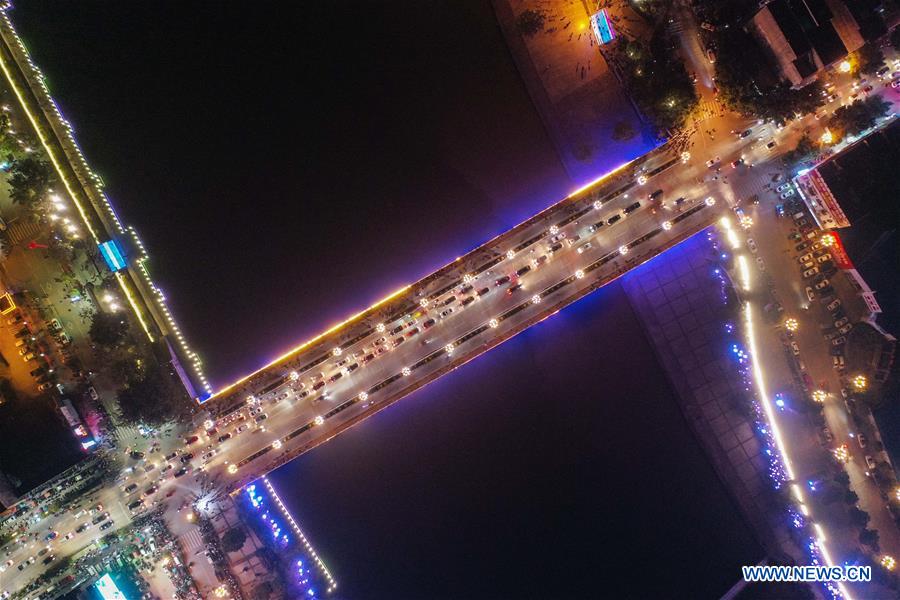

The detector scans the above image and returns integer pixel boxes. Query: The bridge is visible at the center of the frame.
[201,141,729,486]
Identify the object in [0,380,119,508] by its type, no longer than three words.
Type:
building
